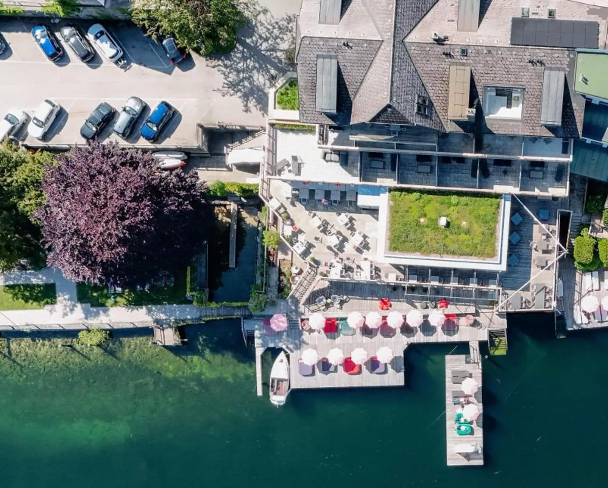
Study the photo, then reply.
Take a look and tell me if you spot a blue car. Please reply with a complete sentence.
Yes, you can see a blue car in this photo.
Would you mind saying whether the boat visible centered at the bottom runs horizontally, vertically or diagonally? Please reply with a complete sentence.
What the image shows is the boat visible centered at the bottom lying vertically.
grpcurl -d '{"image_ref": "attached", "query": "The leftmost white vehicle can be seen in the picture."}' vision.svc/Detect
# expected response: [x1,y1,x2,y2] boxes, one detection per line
[0,103,30,144]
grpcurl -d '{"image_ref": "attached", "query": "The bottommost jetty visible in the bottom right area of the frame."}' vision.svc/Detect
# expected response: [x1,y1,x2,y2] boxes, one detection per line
[445,355,484,466]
